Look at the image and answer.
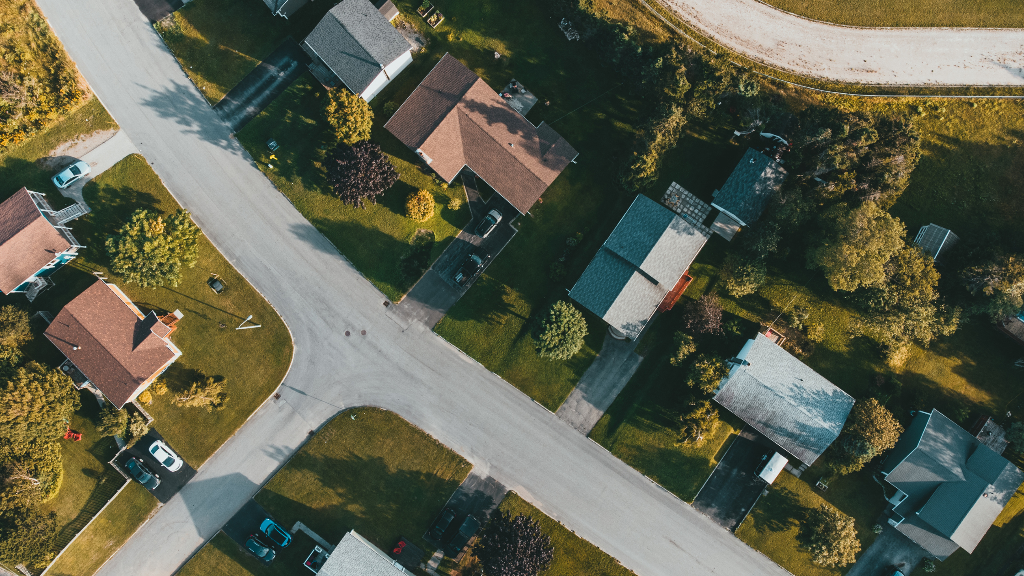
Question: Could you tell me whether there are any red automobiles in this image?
No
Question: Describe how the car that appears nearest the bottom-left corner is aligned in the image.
diagonally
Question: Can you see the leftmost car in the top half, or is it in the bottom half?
top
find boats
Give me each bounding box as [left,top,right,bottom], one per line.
[759,129,790,143]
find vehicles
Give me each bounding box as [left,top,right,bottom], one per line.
[450,245,490,290]
[147,437,183,474]
[444,512,482,560]
[51,158,92,189]
[259,516,293,549]
[756,444,790,488]
[882,560,904,576]
[473,206,503,241]
[242,533,278,564]
[124,455,161,492]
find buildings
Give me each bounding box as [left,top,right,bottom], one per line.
[710,327,855,467]
[261,0,306,21]
[36,279,186,409]
[303,524,425,576]
[384,52,580,215]
[0,187,88,303]
[293,0,413,100]
[870,406,1024,562]
[913,223,960,267]
[710,147,789,228]
[566,193,707,341]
